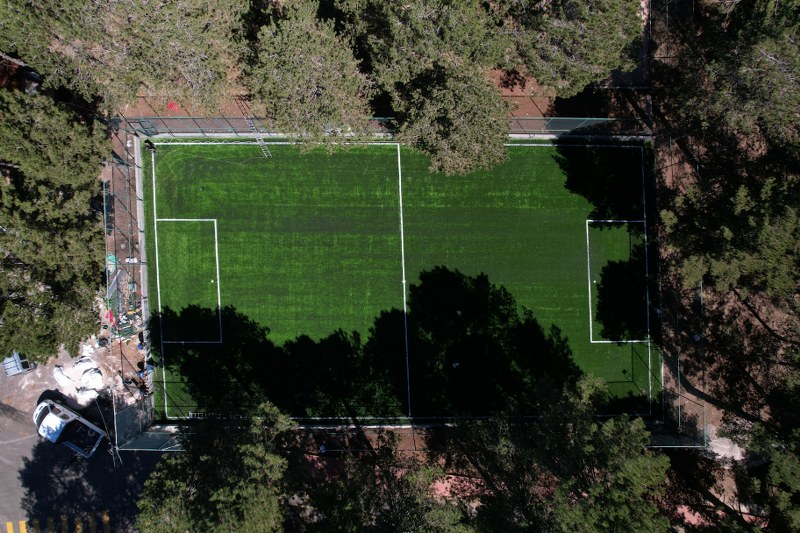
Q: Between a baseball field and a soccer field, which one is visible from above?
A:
soccer field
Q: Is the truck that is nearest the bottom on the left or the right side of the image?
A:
left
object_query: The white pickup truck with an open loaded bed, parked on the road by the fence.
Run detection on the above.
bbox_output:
[33,394,112,458]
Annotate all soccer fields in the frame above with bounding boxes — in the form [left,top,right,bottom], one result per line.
[134,133,667,427]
